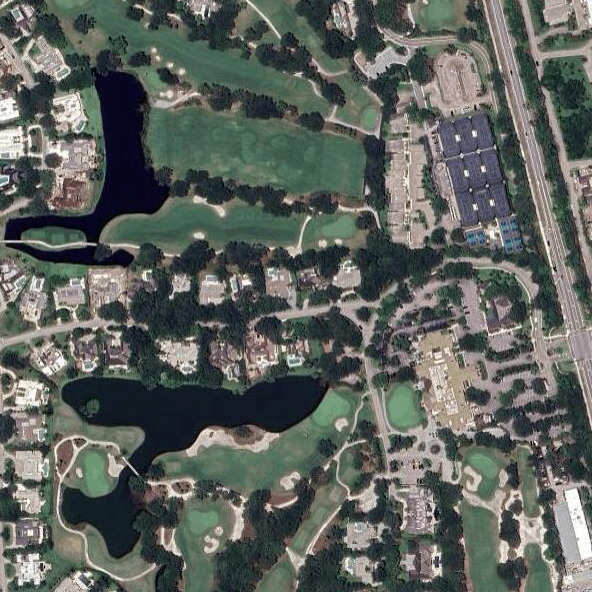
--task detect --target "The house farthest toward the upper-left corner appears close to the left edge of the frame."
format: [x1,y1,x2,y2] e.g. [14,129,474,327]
[8,2,41,27]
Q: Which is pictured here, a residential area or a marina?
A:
residential area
